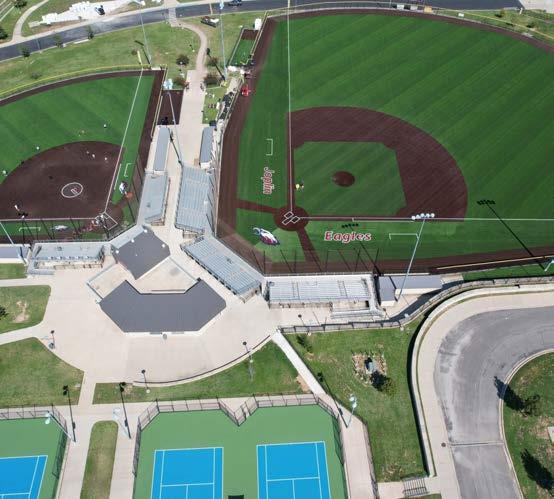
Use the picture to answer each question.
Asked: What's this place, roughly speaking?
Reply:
sports ground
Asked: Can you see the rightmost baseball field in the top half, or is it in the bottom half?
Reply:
top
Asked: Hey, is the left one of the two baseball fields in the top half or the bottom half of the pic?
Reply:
top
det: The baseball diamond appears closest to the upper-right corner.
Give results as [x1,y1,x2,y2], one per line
[218,8,554,274]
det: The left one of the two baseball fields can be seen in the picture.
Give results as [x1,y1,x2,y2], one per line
[0,68,165,243]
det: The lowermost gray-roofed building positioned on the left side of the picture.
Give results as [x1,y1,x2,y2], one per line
[100,279,226,337]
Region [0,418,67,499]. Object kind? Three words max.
tennis court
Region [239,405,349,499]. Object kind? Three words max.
tennis court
